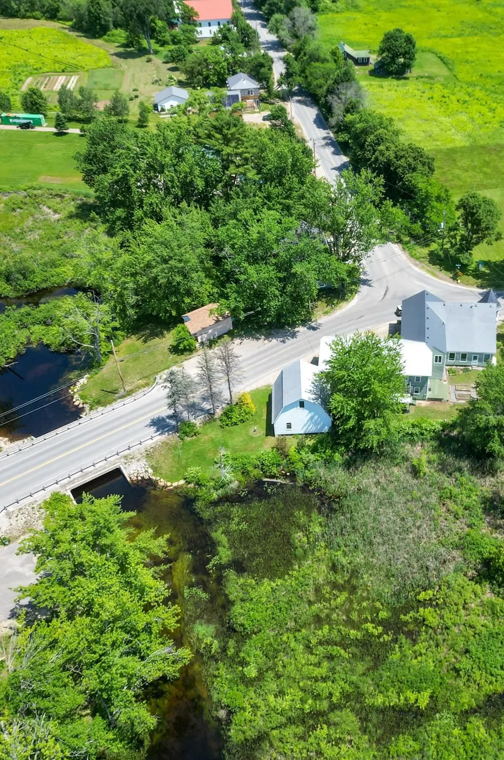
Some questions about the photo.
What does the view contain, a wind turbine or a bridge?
bridge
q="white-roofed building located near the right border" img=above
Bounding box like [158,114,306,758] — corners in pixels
[315,284,498,405]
